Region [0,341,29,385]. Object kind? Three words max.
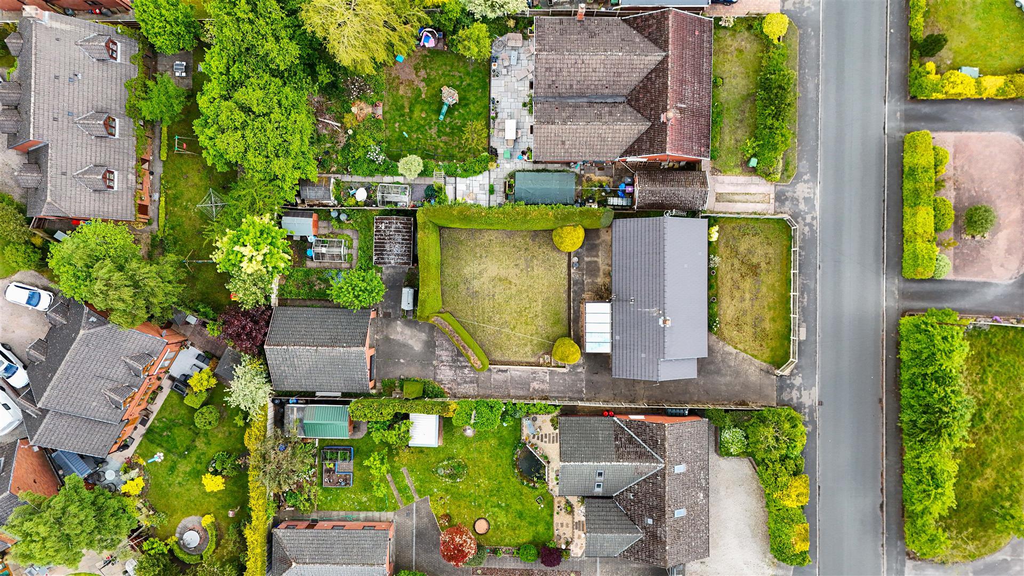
car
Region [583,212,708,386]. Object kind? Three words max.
house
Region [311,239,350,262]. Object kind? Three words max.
greenhouse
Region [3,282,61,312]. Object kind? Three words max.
car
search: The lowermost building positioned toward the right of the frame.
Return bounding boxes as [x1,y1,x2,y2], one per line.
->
[558,414,709,576]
